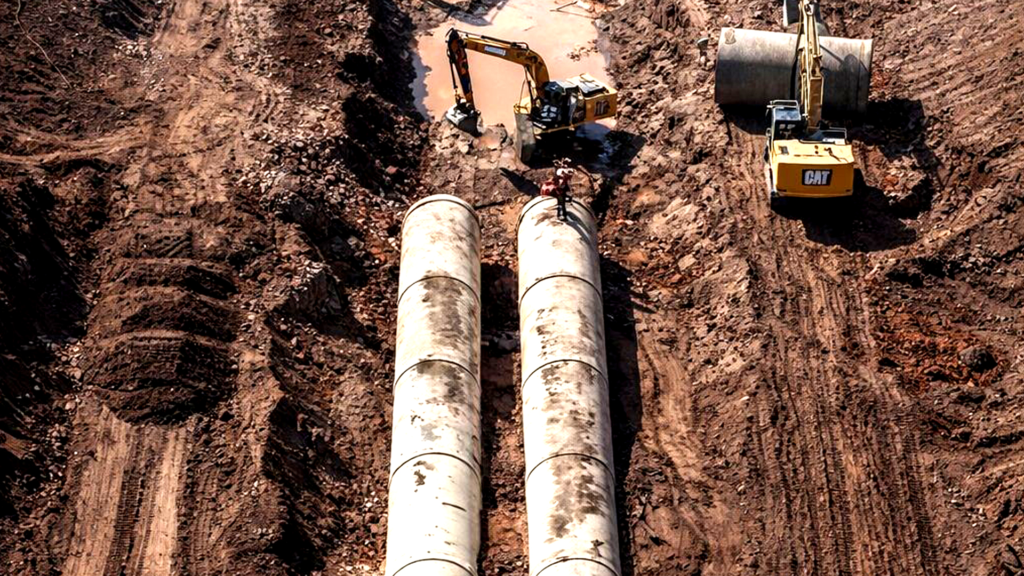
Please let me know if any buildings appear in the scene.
No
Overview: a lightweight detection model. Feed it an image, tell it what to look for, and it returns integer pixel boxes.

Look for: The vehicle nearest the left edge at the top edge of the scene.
[450,28,622,162]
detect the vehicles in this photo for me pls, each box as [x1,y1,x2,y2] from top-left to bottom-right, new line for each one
[450,28,622,162]
[762,0,858,209]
